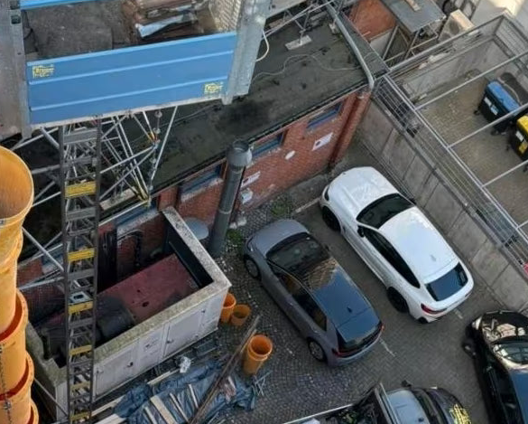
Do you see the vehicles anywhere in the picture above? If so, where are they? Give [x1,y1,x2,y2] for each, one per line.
[310,168,471,332]
[276,366,478,424]
[245,219,388,378]
[456,313,528,424]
